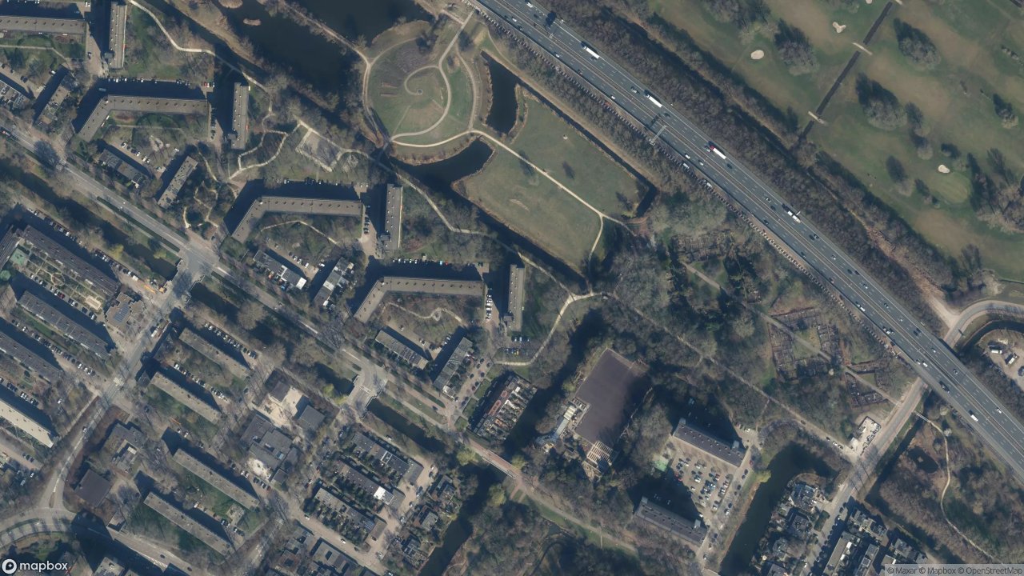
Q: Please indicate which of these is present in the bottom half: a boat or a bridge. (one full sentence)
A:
What appears in the bottom half is a bridge.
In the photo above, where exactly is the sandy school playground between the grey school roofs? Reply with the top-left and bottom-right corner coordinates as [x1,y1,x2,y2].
[255,388,305,425]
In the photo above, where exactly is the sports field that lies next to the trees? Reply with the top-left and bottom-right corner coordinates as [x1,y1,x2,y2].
[573,346,652,451]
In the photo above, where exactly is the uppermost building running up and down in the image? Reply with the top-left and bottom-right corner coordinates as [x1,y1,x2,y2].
[101,1,126,70]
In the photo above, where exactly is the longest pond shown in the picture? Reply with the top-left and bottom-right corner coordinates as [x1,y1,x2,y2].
[483,52,656,215]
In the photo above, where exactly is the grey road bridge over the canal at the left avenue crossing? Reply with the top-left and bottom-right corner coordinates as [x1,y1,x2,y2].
[168,258,208,294]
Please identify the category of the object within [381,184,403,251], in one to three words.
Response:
building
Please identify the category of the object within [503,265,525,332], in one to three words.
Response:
building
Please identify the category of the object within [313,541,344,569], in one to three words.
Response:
house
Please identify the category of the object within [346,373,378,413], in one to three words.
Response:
bridge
